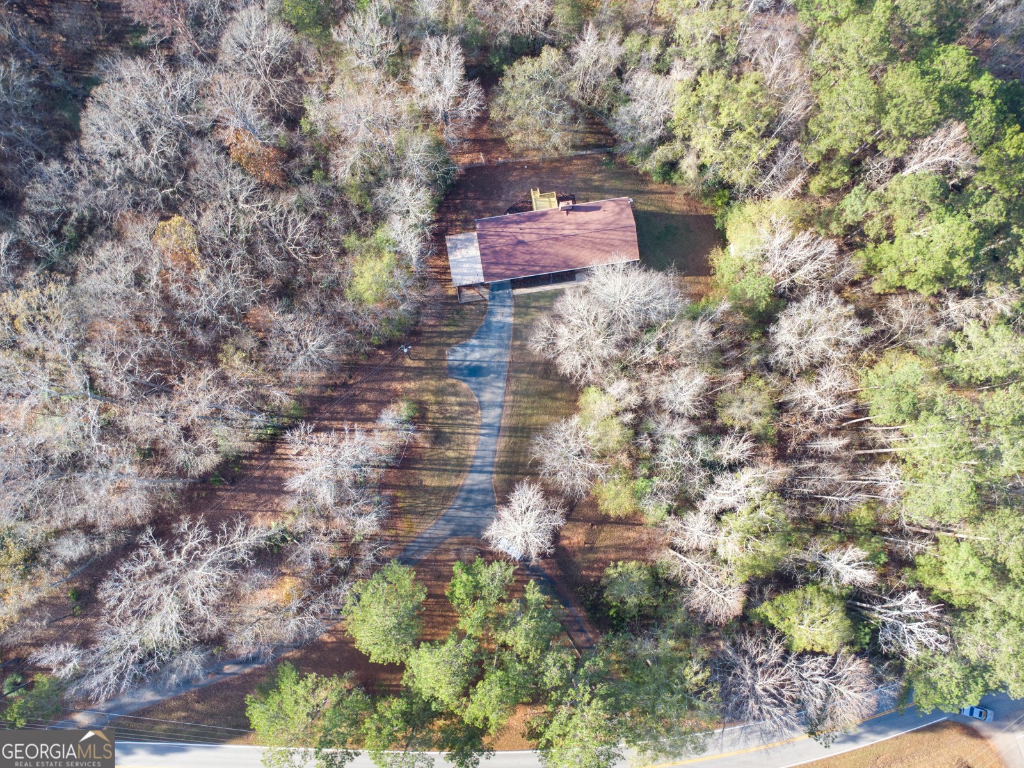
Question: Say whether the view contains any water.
No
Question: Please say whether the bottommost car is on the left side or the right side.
right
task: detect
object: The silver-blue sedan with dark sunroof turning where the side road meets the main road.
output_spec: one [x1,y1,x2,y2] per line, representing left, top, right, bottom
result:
[958,703,994,723]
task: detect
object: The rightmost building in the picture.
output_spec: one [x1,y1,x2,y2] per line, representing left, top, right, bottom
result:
[474,196,639,284]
